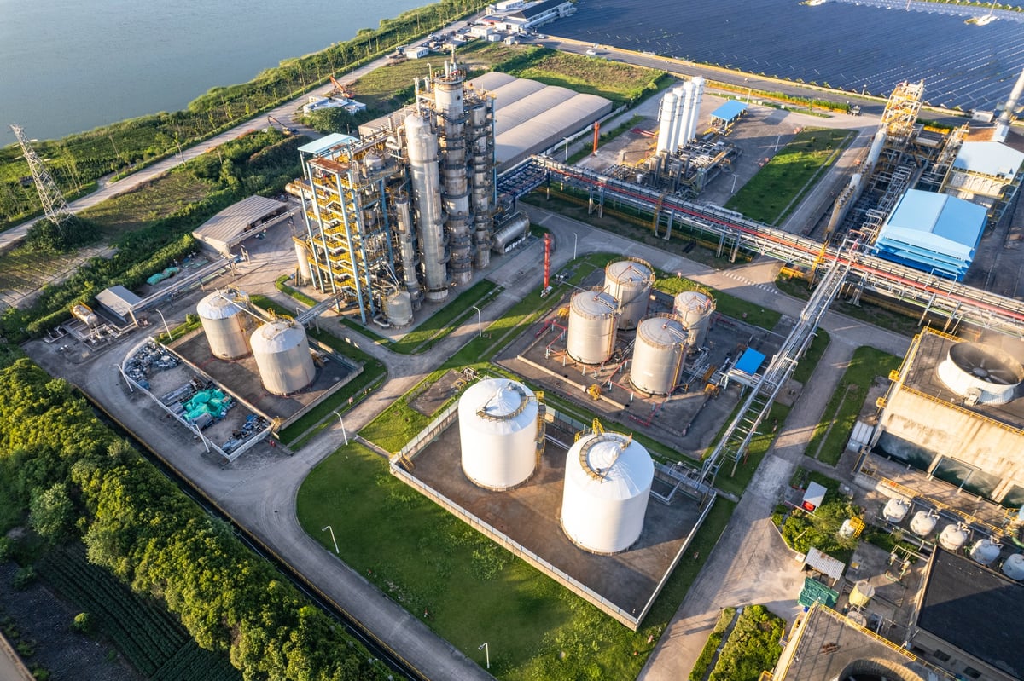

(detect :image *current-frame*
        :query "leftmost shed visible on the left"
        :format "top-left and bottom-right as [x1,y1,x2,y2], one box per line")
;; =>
[96,284,151,320]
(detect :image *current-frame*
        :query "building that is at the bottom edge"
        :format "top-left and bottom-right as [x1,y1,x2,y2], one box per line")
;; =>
[901,546,1024,681]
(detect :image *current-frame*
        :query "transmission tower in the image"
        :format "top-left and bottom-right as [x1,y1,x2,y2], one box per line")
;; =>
[6,120,78,228]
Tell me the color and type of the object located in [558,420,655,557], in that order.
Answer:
white storage tank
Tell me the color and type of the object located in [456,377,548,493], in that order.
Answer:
white storage tank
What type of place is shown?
industrial area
